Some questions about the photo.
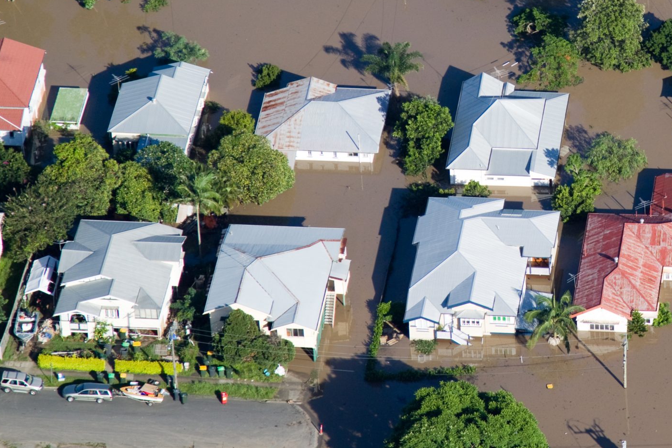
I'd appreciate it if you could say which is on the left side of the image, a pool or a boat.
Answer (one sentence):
Visible on the left side of the image is a boat.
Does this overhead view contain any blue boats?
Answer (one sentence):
No, the frame has no blue boat in it.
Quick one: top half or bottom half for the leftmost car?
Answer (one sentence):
The leftmost car is in the bottom half of the image.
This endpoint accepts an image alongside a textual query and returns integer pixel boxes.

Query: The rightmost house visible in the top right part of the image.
[445,58,570,186]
